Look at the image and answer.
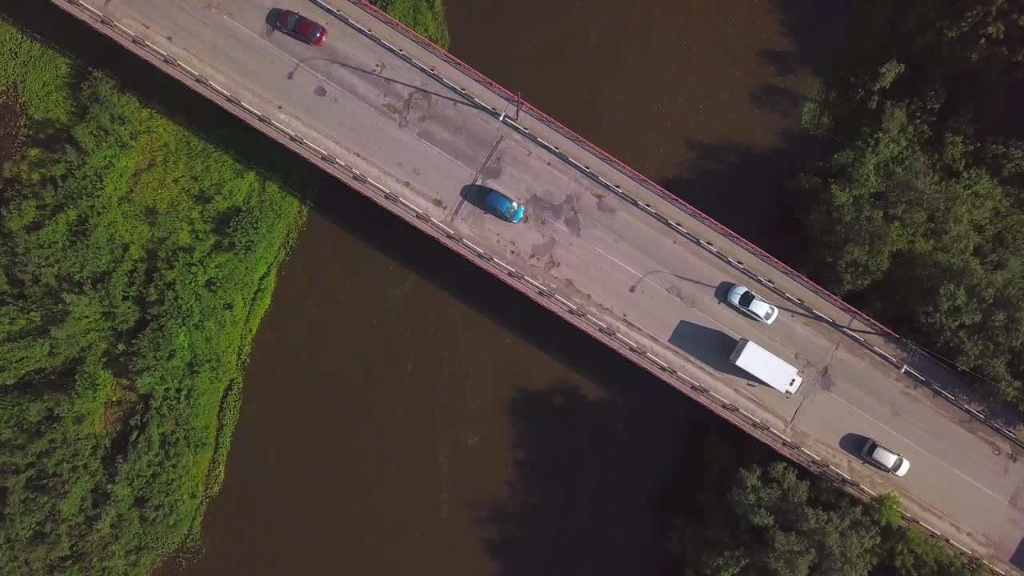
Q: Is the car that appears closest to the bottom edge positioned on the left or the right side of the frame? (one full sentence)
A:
The car that appears closest to the bottom edge is on the right side of the image.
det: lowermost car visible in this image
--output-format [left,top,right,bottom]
[860,440,907,476]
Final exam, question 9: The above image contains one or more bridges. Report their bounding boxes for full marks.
[48,0,857,449]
